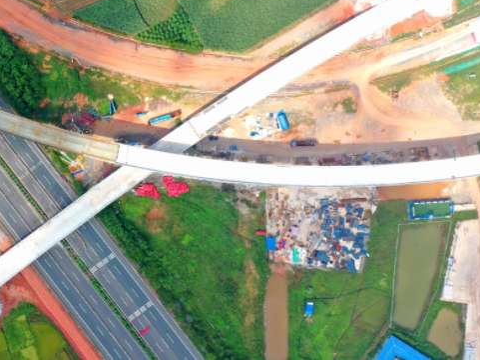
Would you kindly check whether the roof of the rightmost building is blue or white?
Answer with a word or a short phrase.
blue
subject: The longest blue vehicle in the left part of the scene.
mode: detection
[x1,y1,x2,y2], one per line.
[150,110,182,124]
